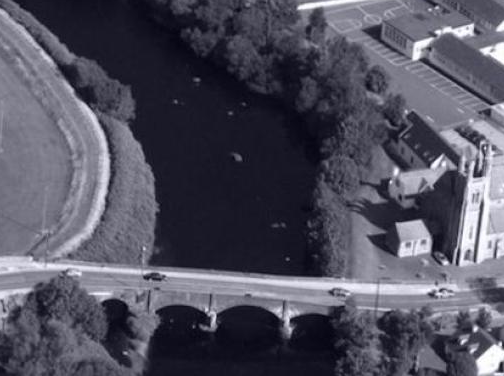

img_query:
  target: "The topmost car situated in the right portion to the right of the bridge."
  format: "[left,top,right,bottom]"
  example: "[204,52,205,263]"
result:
[430,249,450,265]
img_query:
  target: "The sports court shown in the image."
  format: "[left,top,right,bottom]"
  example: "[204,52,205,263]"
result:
[325,0,412,34]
